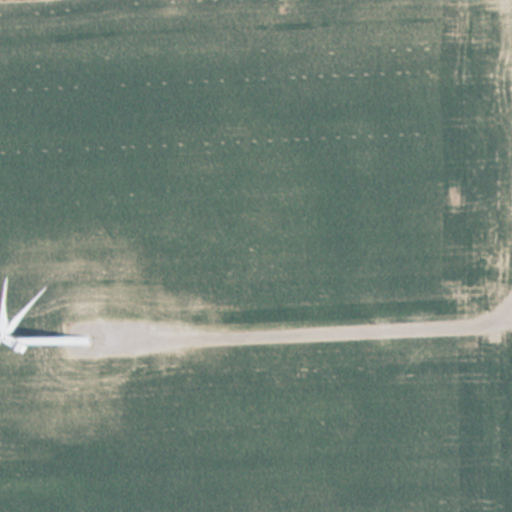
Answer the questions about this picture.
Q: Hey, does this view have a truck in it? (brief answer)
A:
No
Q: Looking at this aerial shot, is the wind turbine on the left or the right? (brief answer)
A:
left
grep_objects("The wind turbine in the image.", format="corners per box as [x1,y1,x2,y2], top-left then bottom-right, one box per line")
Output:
[0,278,94,354]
